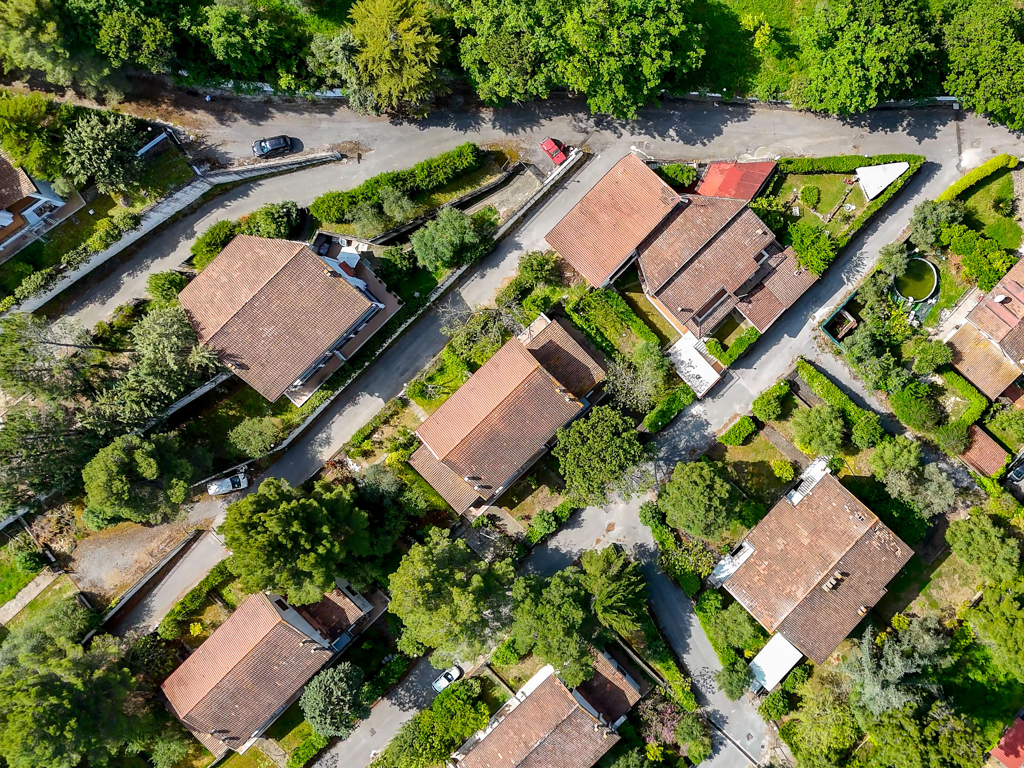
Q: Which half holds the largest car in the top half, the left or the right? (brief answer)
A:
left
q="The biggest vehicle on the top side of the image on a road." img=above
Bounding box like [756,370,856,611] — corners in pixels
[250,135,293,160]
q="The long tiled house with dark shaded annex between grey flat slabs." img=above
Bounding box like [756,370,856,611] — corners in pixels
[160,578,389,759]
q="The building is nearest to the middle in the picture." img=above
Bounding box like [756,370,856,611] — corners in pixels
[408,314,605,524]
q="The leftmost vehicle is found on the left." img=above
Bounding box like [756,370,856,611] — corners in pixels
[205,473,249,499]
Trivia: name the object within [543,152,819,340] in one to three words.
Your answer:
house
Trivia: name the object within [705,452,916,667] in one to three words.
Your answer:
house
